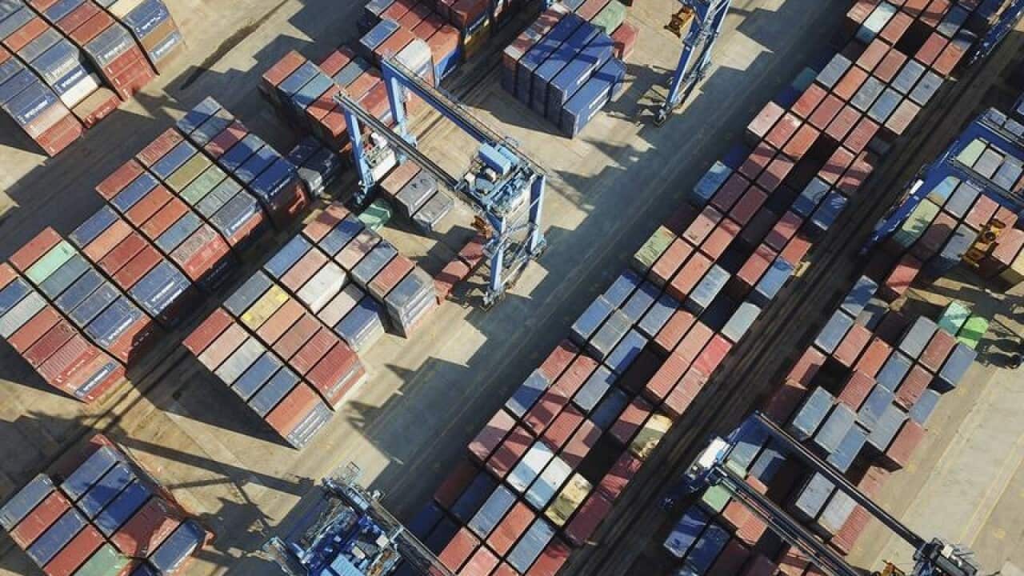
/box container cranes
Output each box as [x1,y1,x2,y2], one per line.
[860,113,1024,263]
[655,404,997,576]
[251,465,449,576]
[650,0,739,126]
[333,47,562,310]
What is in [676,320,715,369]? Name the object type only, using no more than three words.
shipping container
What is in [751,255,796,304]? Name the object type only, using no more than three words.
shipping container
